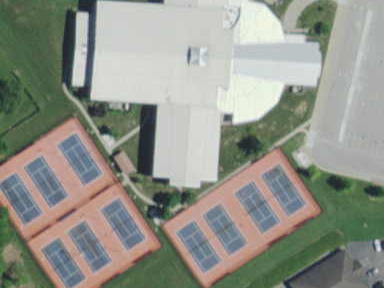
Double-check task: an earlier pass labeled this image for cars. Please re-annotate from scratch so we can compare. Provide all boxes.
[375,240,380,250]
[368,268,378,276]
